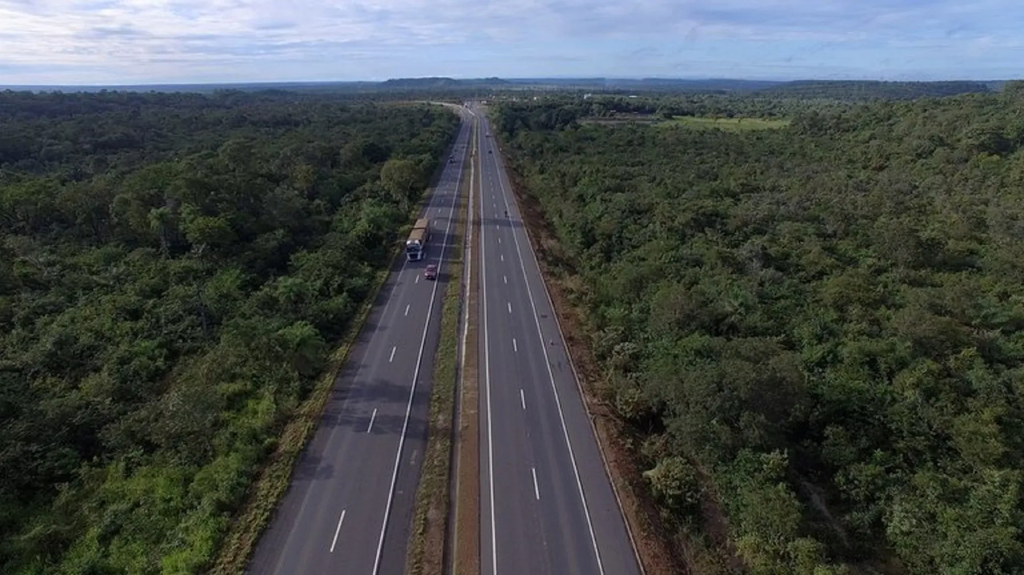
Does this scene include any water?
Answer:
No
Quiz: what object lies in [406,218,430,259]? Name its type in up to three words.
truck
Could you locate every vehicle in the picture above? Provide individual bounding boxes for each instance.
[426,266,437,278]
[406,218,430,259]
